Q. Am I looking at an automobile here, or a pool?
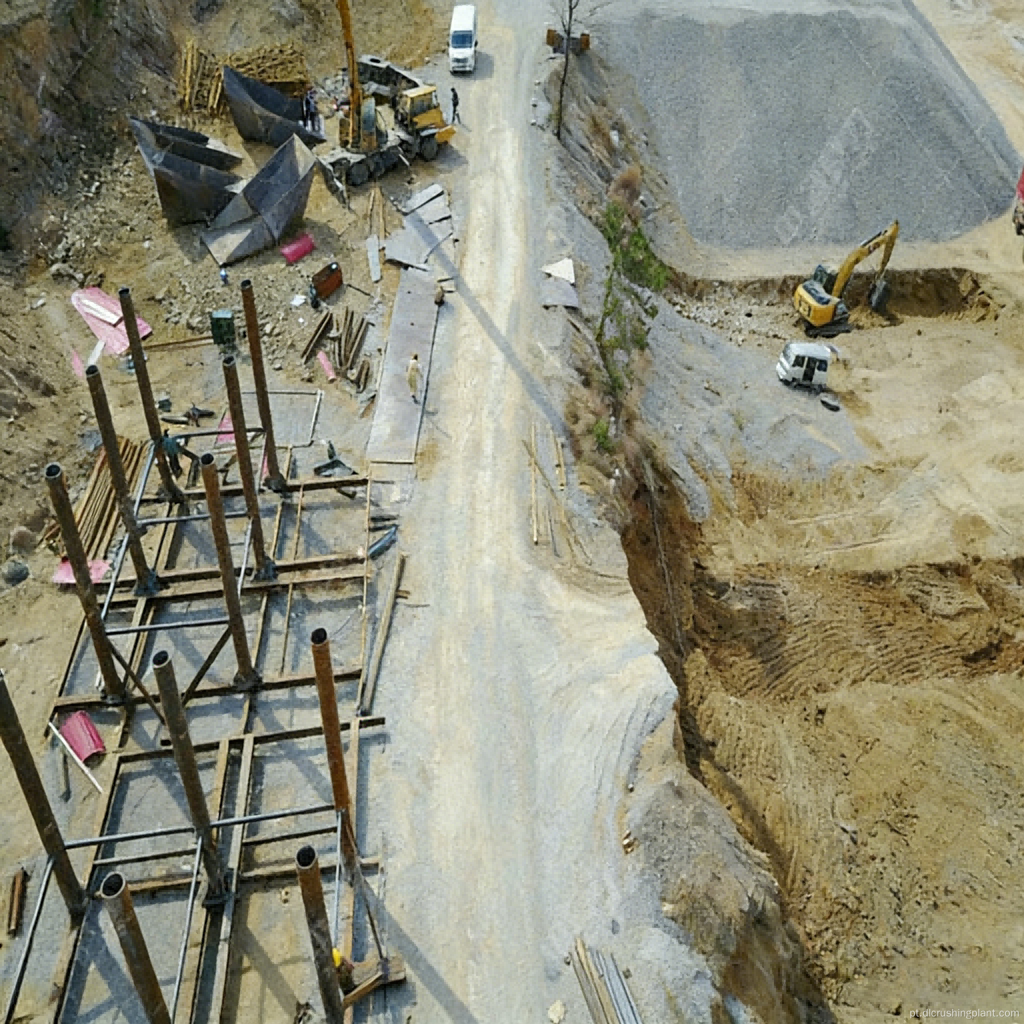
automobile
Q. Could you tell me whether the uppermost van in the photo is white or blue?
white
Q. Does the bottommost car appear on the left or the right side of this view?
right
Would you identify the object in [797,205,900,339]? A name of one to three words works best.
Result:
work vehicle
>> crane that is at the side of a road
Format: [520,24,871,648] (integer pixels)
[305,0,457,205]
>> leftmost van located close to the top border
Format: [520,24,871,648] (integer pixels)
[446,0,478,68]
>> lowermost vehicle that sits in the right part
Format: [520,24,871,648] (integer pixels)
[771,331,844,389]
